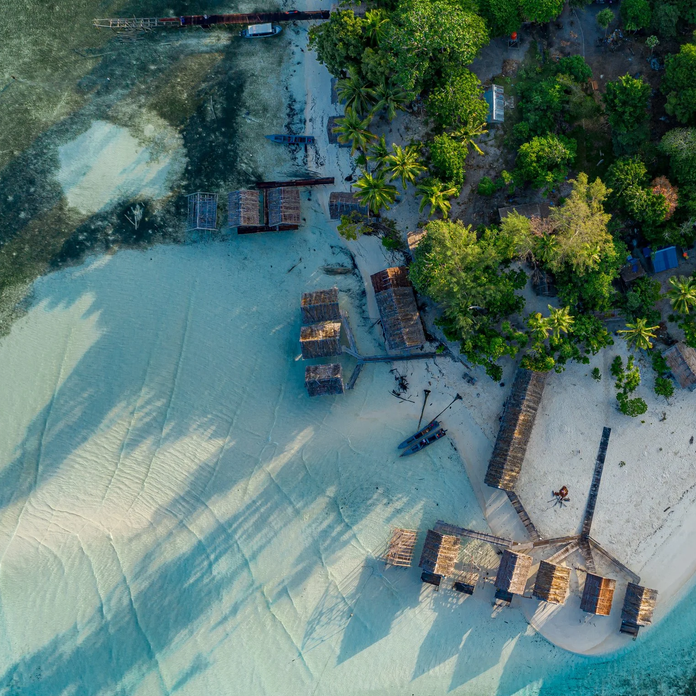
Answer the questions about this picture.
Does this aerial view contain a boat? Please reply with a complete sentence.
Yes, looking at the shot, I can spot a boat.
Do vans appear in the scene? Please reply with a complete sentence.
No, the frame has no van in it.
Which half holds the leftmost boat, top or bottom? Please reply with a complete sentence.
The top half of the photo is where the leftmost boat is.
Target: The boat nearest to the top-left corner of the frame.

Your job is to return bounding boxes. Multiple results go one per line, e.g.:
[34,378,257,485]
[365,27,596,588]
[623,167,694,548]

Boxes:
[239,20,283,41]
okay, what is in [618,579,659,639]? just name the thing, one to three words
shed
